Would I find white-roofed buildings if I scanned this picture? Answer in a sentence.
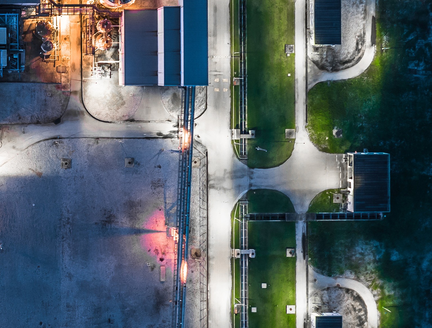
No, there's no white-roofed building here.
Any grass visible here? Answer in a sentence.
Yes, there is grass in the image.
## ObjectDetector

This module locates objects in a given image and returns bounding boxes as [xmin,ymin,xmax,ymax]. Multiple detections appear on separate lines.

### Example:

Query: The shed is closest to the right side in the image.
[346,153,391,212]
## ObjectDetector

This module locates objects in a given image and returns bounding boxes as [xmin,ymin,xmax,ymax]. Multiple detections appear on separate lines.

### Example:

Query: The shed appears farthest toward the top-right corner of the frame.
[309,0,341,45]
